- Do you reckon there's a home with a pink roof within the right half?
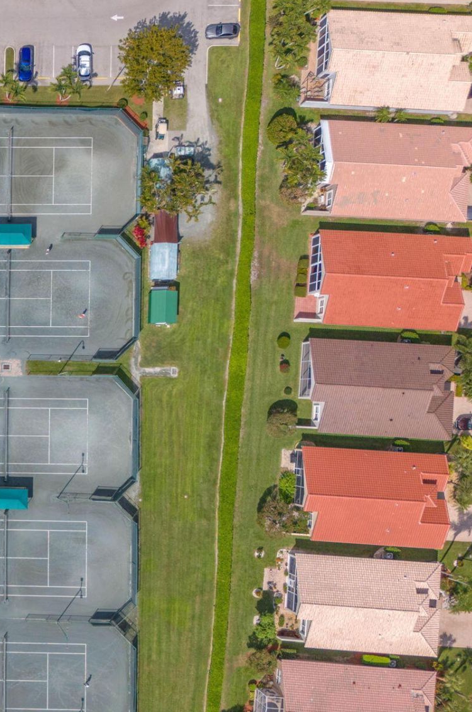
Yes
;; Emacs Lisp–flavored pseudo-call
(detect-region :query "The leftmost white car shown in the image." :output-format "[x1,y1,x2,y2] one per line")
[77,46,92,78]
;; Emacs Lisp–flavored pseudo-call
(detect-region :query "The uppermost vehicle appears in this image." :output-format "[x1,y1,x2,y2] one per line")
[205,21,238,39]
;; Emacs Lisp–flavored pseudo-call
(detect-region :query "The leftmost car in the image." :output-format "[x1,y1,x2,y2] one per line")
[18,46,33,80]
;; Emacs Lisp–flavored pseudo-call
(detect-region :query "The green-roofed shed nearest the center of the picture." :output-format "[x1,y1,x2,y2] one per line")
[144,289,178,326]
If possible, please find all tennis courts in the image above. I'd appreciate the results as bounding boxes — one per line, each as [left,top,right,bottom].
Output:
[0,619,131,712]
[0,497,133,621]
[0,113,137,236]
[0,235,136,360]
[0,374,135,501]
